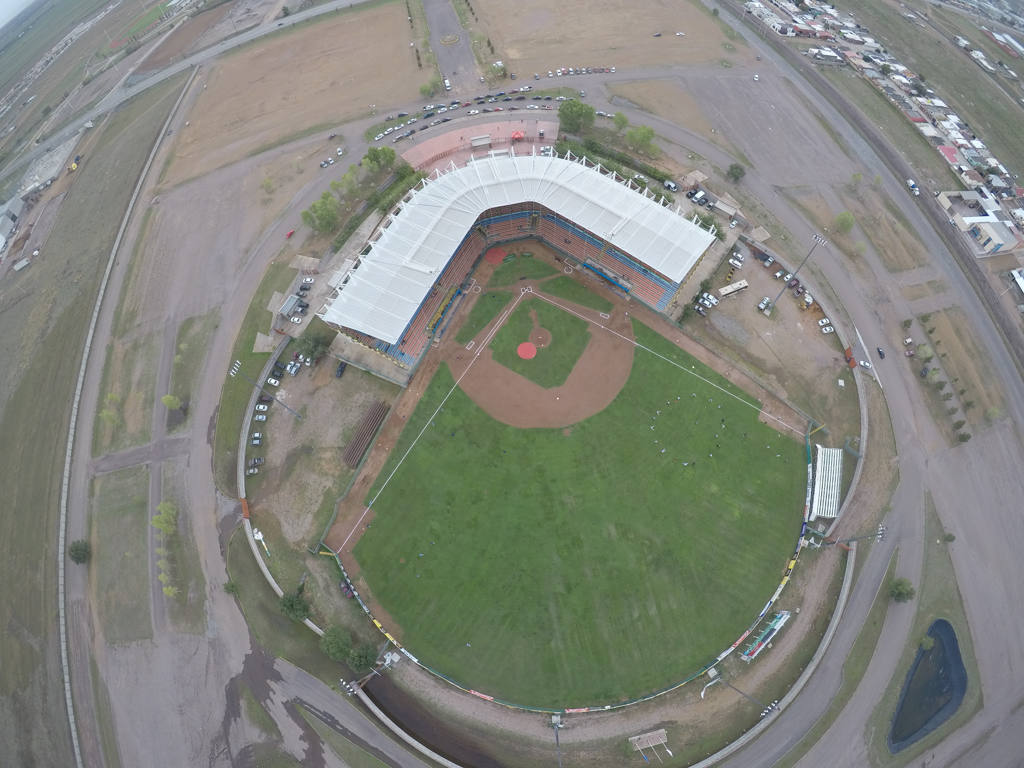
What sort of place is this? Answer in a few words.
sports ground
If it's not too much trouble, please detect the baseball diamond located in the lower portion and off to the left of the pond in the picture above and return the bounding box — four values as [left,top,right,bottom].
[321,240,809,709]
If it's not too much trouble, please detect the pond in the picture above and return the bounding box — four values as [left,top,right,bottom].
[887,618,968,755]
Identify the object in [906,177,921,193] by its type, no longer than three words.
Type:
vehicle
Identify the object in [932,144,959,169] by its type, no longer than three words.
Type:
house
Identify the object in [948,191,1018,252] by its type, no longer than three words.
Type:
building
